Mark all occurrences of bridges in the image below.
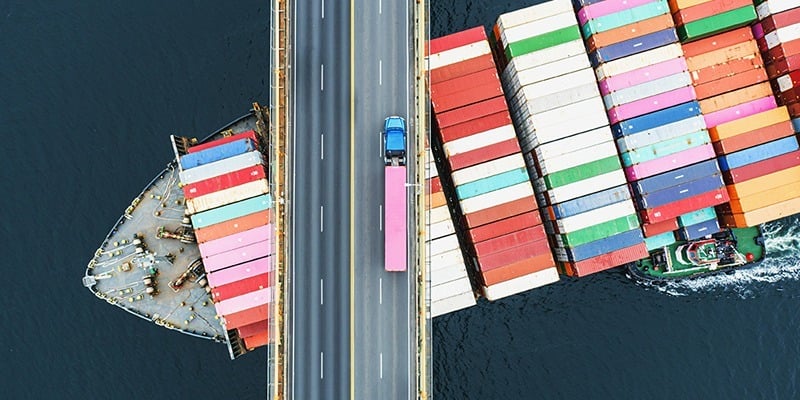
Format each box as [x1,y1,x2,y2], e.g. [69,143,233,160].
[267,0,431,400]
